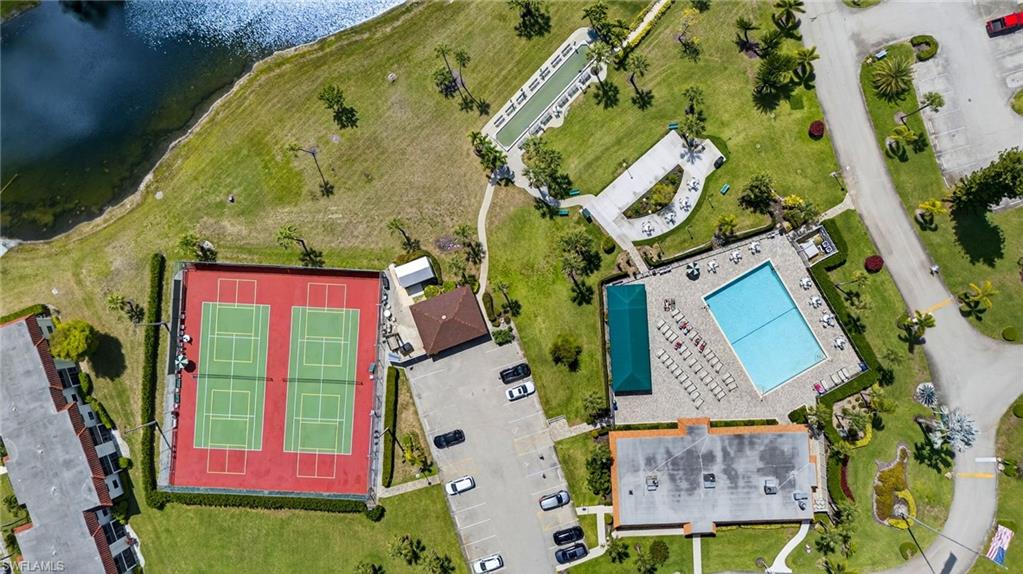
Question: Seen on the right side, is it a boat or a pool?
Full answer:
You can see a pool on the right side.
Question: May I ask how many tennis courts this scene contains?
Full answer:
I count 2 tennis courts.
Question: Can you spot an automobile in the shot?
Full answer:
Yes, the image includes an automobile.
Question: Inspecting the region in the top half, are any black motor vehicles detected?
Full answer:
No, looking in the top half, there is no black motor vehicle.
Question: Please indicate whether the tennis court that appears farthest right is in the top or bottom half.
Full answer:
It is in the bottom half that the tennis court that appears farthest right appears.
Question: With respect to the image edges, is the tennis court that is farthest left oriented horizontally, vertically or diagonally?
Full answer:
The tennis court that is farthest left is oriented vertically.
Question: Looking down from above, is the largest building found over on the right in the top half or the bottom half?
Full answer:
It is in the bottom half that the largest building found over on the right appears.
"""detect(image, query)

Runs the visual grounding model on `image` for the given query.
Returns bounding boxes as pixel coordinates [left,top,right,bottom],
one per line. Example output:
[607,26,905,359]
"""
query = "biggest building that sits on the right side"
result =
[609,417,817,536]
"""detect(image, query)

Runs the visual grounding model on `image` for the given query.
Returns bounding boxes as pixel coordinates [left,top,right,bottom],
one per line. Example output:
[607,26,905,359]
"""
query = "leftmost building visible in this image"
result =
[0,314,133,574]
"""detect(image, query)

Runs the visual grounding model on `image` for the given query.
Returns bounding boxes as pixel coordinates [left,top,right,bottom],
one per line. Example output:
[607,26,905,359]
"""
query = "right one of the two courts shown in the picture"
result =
[273,269,382,494]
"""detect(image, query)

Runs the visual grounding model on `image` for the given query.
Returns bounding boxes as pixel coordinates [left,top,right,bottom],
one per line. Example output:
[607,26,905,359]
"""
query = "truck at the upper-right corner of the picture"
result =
[981,9,1023,33]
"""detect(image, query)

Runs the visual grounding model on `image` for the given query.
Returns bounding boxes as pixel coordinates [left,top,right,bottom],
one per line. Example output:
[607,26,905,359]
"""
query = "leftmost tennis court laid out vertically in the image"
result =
[174,266,283,490]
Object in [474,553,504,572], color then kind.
white car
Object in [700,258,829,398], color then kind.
blue swimming pool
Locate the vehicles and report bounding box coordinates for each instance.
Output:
[553,542,587,562]
[446,475,476,494]
[474,553,504,572]
[434,428,466,447]
[499,363,531,382]
[981,9,1023,33]
[505,382,535,400]
[552,524,584,545]
[538,488,570,508]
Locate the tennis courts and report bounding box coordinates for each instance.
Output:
[174,266,283,490]
[273,269,382,494]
